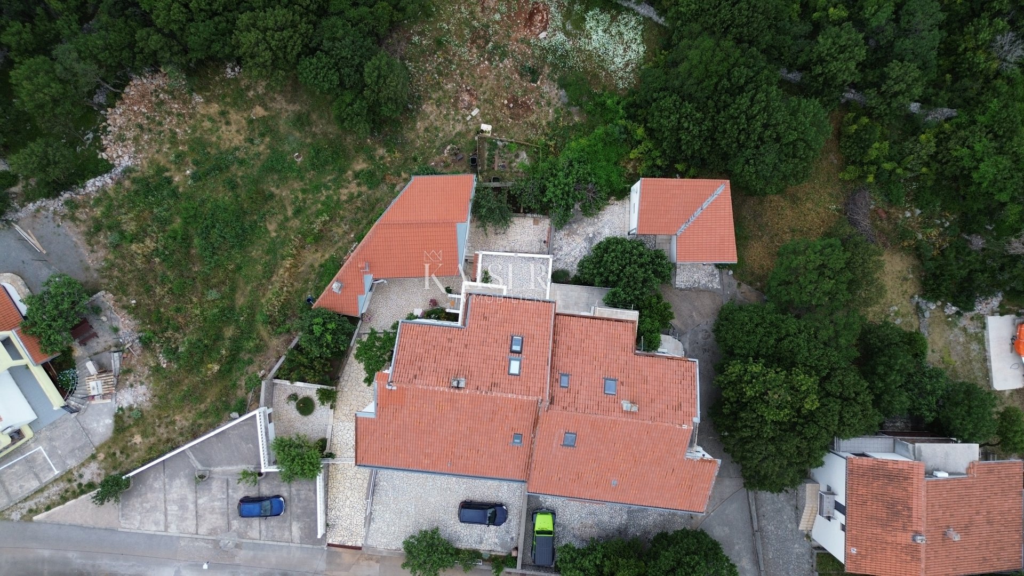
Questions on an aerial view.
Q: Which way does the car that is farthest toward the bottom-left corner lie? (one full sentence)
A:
In this picture, the car that is farthest toward the bottom-left corner is oriented from left to right.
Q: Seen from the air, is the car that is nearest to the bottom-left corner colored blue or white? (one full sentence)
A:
From above, the car that is nearest to the bottom-left corner appears blue.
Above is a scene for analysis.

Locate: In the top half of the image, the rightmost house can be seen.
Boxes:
[629,177,739,267]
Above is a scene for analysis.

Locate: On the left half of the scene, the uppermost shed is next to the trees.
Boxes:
[313,173,477,319]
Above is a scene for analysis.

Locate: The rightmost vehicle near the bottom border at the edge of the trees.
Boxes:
[530,512,557,569]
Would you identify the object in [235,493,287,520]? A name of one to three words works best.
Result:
car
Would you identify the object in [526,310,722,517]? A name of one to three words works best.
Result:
house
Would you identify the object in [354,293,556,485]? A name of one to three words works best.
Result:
house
